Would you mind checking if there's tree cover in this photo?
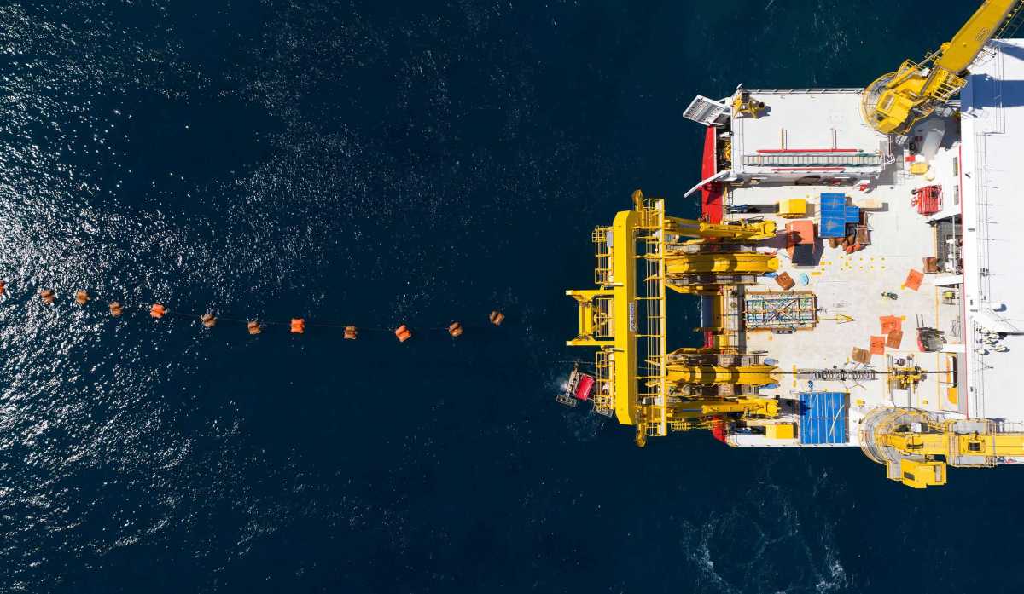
No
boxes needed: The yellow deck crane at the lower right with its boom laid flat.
[850,401,1024,489]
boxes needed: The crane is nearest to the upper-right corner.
[860,0,1024,137]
